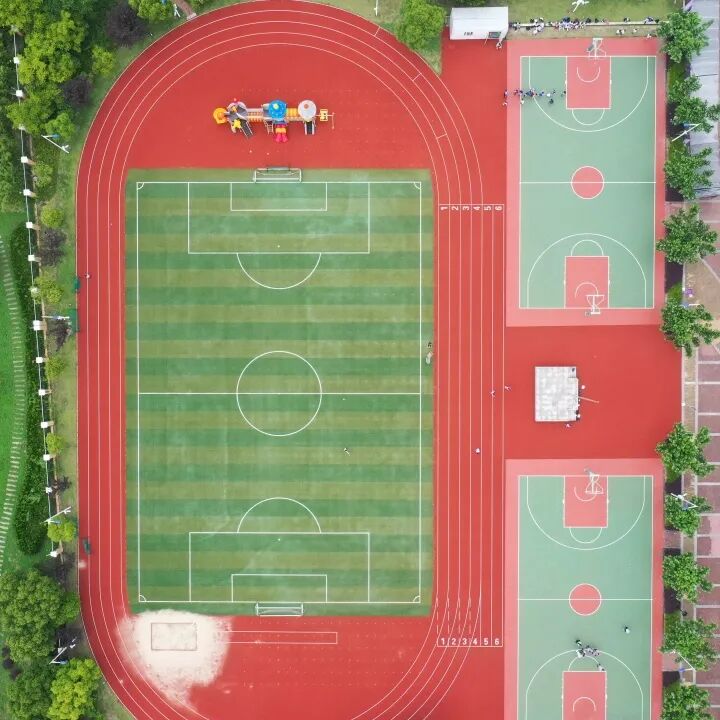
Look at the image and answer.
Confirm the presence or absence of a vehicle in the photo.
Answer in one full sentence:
No, there isn't any vehicle down there.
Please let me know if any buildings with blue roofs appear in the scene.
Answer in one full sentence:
No, the frame has no building with a blue roof in it.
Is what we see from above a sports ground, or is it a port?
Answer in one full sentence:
The area seen from above is a sports ground.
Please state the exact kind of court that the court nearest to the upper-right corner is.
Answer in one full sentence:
It turns out the court nearest to the upper-right corner is a basketball court.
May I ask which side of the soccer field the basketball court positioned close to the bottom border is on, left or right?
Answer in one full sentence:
Compared with the soccer field, the basketball court positioned close to the bottom border is located further to the right.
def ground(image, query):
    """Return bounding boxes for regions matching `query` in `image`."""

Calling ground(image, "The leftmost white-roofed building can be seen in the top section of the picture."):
[450,6,508,46]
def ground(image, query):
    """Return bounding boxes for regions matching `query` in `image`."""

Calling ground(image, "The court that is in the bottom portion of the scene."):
[503,458,664,720]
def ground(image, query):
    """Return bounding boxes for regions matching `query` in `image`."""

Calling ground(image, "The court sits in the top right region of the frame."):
[506,37,667,326]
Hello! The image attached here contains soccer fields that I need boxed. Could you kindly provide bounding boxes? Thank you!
[124,168,435,617]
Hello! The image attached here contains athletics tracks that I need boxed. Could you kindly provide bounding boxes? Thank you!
[76,0,505,720]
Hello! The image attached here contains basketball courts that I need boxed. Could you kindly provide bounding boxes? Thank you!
[506,37,667,326]
[503,458,664,720]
